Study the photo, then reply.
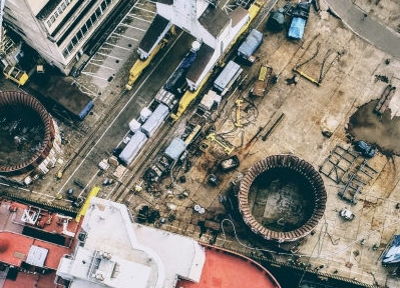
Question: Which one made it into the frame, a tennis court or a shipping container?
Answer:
shipping container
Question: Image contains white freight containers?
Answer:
Yes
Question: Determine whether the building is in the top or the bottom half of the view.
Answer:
top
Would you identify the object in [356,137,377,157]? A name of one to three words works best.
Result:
vehicle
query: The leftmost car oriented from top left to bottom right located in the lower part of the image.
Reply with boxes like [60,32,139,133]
[338,207,356,221]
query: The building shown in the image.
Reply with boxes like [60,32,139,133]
[0,0,126,75]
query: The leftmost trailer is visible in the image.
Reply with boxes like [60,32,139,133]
[44,74,99,122]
